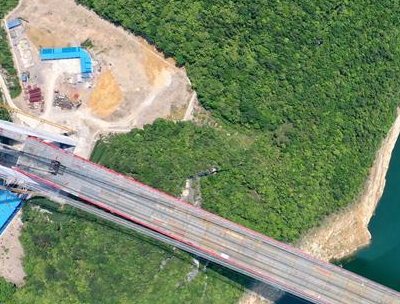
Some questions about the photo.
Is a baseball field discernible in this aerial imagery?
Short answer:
No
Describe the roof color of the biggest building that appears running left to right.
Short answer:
blue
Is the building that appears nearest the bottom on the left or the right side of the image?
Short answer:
left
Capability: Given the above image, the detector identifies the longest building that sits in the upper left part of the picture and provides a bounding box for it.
[41,47,95,74]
